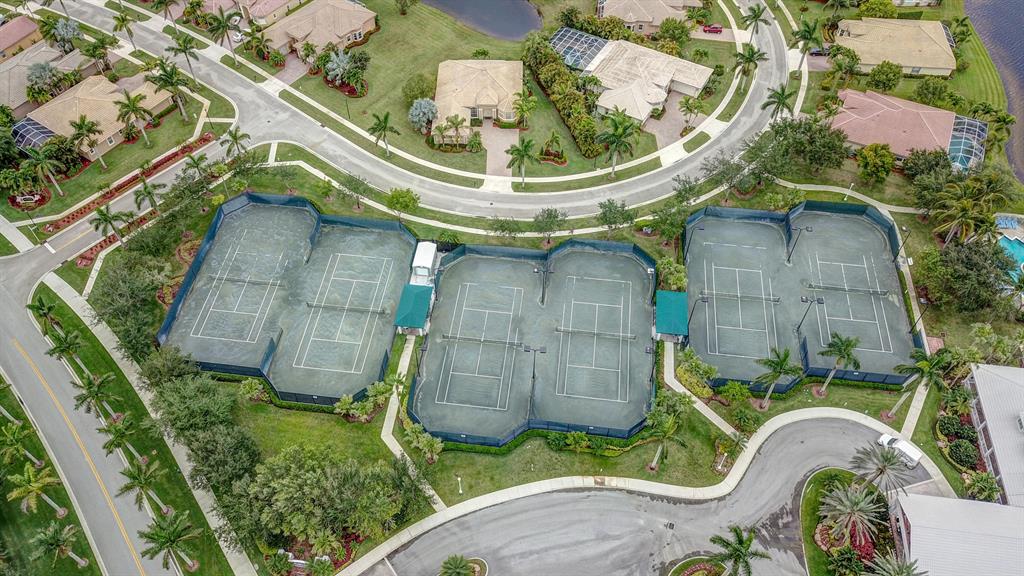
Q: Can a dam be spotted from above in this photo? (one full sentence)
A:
No, no dam is visible in the scene.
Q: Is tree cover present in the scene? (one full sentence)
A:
Yes, tree cover shows up in the scene.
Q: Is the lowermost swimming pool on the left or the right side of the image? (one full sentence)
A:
The lowermost swimming pool is on the right side of the image.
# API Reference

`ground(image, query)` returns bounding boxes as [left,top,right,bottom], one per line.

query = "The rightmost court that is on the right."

[790,211,921,384]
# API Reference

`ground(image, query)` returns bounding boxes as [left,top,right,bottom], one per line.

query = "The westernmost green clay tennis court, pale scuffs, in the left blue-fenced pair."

[166,204,312,375]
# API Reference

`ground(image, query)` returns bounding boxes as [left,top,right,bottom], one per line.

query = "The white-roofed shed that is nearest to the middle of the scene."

[412,242,438,276]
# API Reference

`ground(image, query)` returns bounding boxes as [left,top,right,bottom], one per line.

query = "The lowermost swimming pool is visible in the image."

[985,212,1024,326]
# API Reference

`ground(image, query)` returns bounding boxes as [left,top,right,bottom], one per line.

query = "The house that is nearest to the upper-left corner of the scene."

[0,18,42,60]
